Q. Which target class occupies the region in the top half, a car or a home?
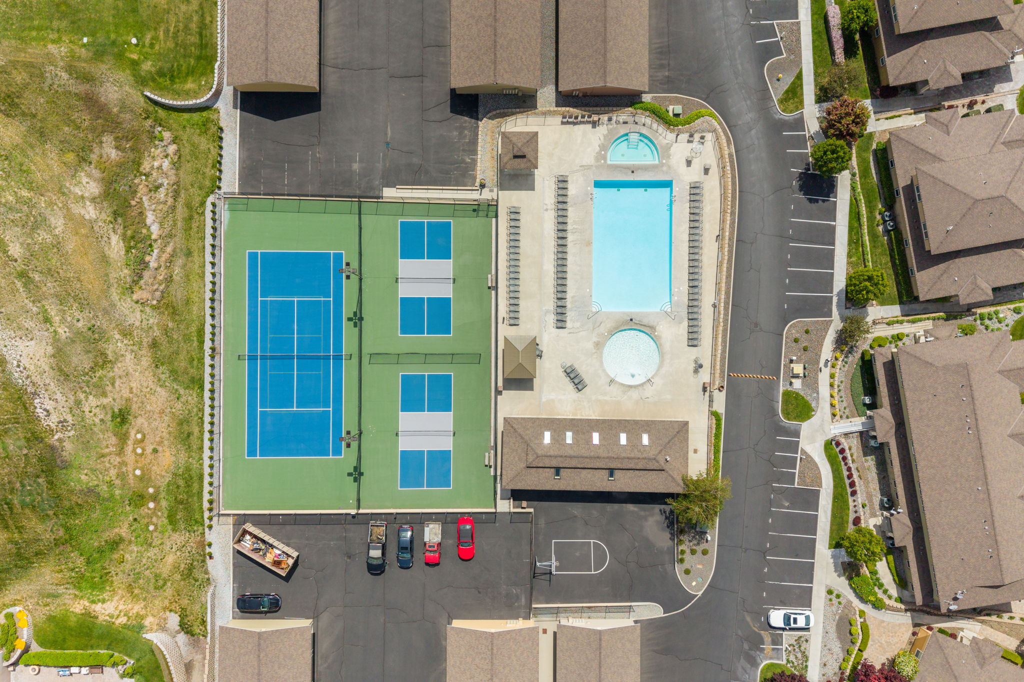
home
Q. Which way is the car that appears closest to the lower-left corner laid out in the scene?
from side to side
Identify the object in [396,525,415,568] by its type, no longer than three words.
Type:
car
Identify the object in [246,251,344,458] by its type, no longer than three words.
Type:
tennis court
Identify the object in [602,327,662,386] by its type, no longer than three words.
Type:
swimming pool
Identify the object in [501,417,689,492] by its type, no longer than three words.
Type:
building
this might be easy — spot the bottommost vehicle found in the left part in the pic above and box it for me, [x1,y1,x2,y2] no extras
[237,592,282,614]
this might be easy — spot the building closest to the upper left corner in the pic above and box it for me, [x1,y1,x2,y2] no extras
[227,0,321,92]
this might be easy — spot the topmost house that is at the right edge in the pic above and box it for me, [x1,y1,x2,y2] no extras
[871,0,1024,90]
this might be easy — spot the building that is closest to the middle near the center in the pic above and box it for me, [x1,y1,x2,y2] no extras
[503,335,537,379]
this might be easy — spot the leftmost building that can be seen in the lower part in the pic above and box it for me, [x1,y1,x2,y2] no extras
[219,618,314,682]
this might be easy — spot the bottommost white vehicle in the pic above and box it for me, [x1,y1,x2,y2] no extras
[767,608,813,630]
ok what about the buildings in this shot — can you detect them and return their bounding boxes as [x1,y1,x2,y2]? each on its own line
[558,0,648,97]
[500,131,539,171]
[869,324,1024,613]
[501,417,689,492]
[503,335,537,379]
[871,0,1024,90]
[219,618,314,682]
[450,0,541,96]
[447,617,539,682]
[899,627,1024,682]
[557,615,640,682]
[227,0,321,92]
[883,107,1024,305]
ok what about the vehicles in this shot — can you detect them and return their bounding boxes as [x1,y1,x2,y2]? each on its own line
[396,525,415,568]
[237,592,282,614]
[767,608,813,630]
[457,516,476,559]
[423,519,443,567]
[366,518,388,573]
